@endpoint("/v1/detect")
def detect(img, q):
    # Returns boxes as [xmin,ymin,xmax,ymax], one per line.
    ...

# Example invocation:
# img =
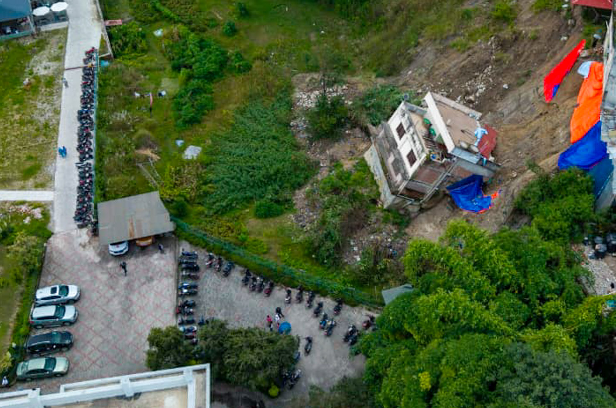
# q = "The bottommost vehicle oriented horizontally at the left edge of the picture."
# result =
[12,353,69,380]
